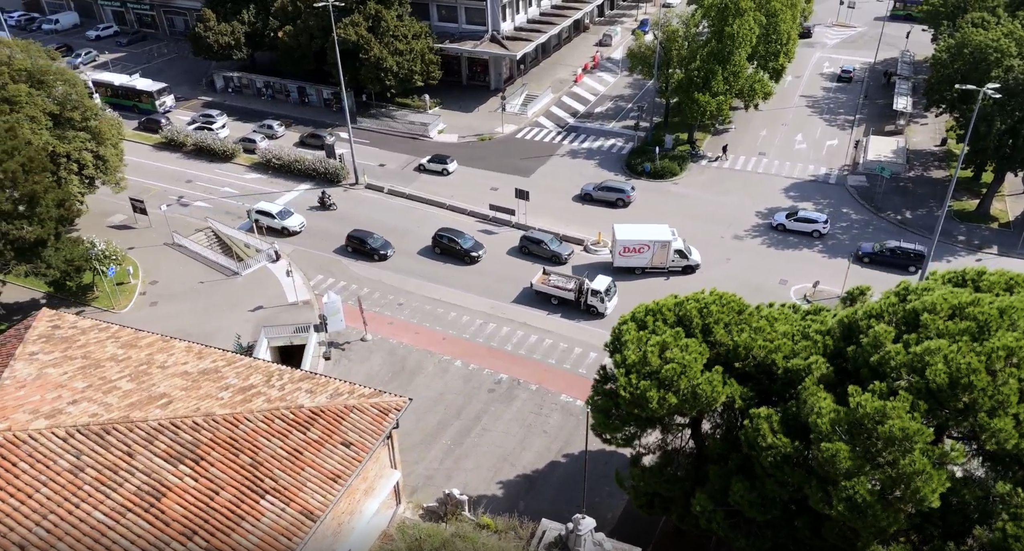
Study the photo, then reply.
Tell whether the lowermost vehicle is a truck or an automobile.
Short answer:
truck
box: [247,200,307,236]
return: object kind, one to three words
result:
car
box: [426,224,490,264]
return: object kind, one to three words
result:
car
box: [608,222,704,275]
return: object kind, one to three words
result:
truck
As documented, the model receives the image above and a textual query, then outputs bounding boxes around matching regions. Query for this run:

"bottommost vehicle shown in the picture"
[526,262,620,317]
